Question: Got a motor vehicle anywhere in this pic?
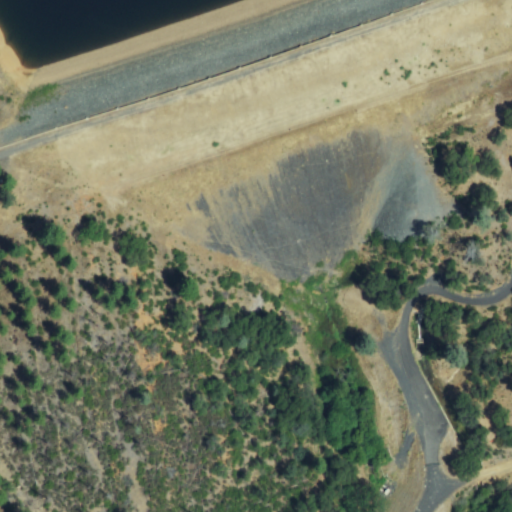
No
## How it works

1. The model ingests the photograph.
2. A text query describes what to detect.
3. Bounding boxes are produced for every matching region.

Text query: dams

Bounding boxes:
[0,0,512,193]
